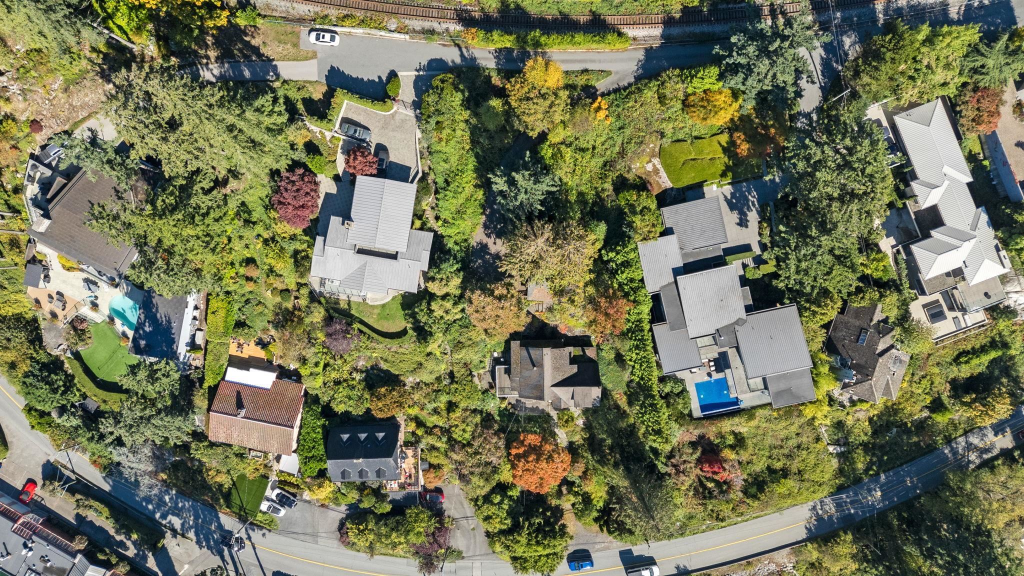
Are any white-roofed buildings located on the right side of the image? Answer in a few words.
Yes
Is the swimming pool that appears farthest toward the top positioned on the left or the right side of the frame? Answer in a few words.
left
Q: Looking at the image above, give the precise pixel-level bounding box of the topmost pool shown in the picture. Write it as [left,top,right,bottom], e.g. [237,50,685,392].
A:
[108,294,141,332]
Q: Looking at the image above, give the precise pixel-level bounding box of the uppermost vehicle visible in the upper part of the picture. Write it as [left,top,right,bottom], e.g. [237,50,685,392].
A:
[308,29,341,47]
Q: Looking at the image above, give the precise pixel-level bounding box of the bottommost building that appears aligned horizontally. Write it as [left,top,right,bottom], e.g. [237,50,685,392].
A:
[389,492,418,505]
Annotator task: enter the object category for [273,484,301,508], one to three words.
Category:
car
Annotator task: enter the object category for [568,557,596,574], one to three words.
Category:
car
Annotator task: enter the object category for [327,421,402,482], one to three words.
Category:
house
